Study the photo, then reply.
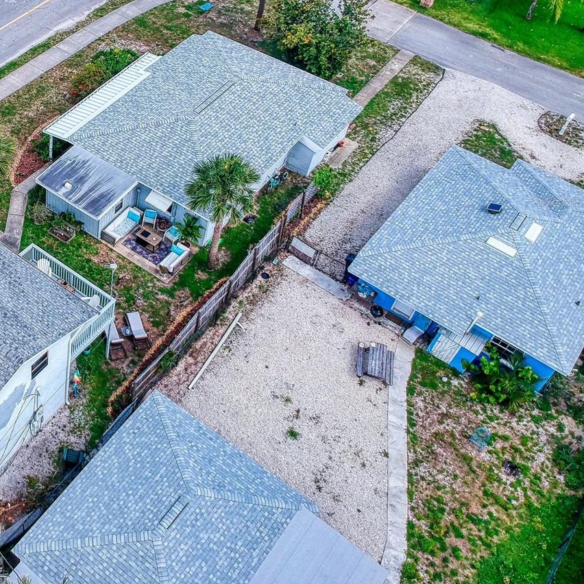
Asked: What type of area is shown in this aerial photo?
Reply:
residential area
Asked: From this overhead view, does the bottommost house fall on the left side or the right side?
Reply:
left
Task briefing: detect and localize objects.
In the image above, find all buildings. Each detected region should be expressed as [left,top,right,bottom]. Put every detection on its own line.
[10,391,393,584]
[33,32,368,253]
[0,242,117,470]
[347,144,584,393]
